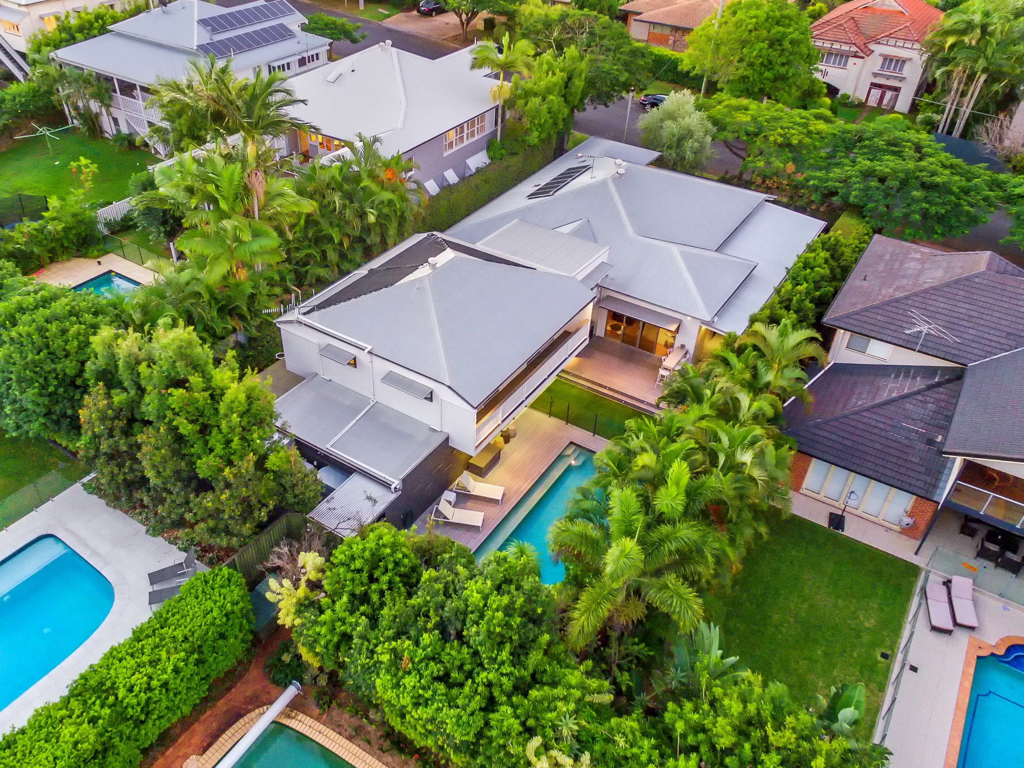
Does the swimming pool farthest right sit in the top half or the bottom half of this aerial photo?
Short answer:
bottom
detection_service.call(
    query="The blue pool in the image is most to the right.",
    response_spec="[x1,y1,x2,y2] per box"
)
[942,635,1024,768]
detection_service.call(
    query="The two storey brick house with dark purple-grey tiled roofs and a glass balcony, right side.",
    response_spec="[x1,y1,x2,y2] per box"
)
[772,221,1024,555]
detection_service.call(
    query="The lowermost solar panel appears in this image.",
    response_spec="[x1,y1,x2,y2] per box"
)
[527,163,592,197]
